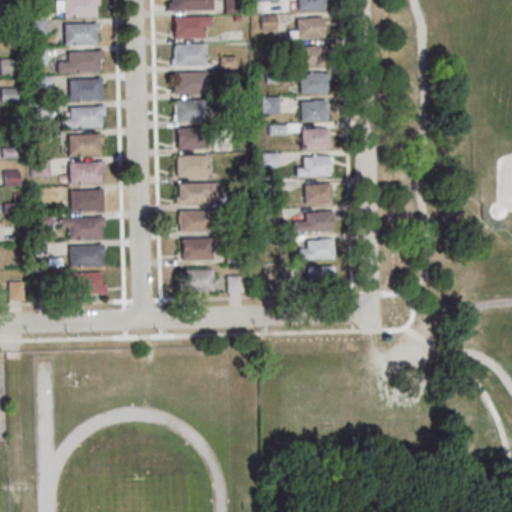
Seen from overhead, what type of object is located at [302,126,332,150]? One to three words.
house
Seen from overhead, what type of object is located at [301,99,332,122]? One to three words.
house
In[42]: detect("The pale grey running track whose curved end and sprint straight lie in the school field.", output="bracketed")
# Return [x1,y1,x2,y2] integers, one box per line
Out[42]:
[38,361,228,512]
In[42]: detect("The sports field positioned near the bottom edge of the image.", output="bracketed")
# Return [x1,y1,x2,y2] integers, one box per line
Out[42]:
[56,422,214,512]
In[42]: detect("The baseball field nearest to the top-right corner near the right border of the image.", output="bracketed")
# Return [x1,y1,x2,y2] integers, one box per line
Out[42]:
[489,152,512,220]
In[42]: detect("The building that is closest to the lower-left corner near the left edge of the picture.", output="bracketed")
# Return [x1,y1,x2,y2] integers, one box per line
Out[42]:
[8,281,26,302]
